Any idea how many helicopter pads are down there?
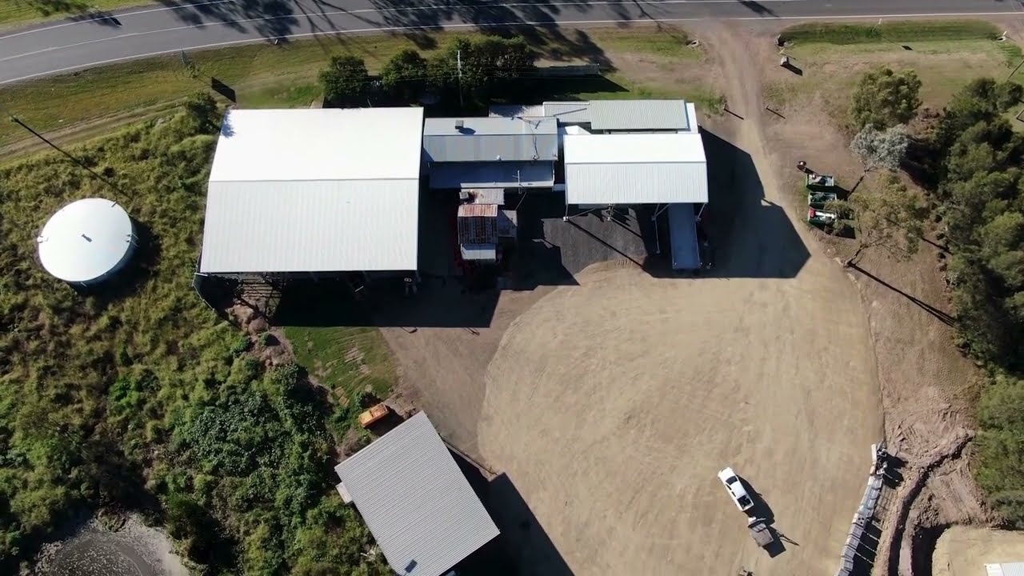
zero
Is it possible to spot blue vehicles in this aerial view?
No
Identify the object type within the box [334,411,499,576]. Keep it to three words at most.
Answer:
shed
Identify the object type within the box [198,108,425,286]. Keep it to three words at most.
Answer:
shed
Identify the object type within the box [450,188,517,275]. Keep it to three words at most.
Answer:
building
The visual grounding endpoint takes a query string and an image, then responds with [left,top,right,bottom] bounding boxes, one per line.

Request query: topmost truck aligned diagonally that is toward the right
[717,469,754,512]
